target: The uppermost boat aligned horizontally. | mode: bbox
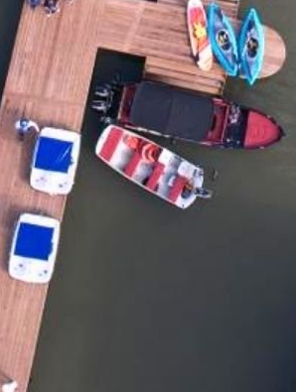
[103,82,287,153]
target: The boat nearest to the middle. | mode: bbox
[96,125,207,211]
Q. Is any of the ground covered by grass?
No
